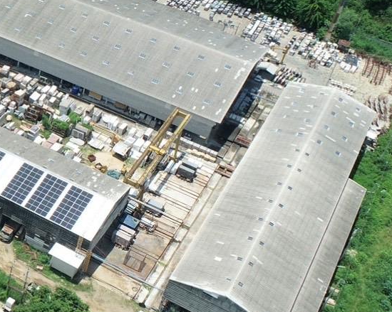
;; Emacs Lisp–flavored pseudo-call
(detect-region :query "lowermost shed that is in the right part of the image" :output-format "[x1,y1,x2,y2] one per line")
[160,83,375,312]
